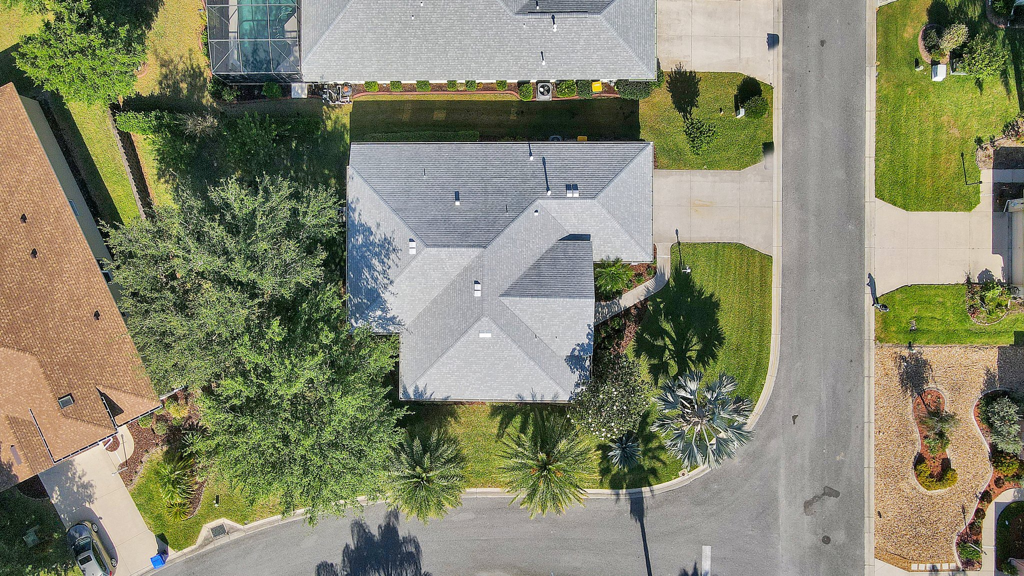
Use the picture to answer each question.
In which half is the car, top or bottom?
bottom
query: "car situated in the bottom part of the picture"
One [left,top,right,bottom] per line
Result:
[73,517,120,576]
